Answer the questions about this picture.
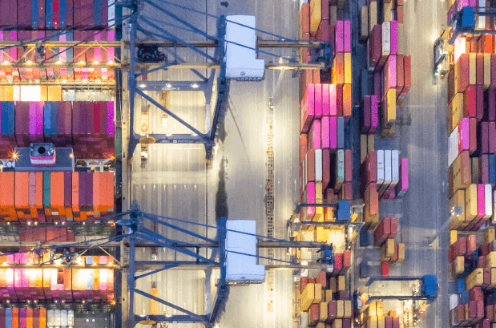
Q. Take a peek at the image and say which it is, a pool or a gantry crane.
gantry crane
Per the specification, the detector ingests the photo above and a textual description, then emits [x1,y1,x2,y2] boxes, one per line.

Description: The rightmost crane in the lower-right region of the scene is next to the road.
[349,273,442,325]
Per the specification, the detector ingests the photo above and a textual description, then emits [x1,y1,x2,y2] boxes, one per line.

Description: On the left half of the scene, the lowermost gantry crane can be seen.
[0,195,334,328]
